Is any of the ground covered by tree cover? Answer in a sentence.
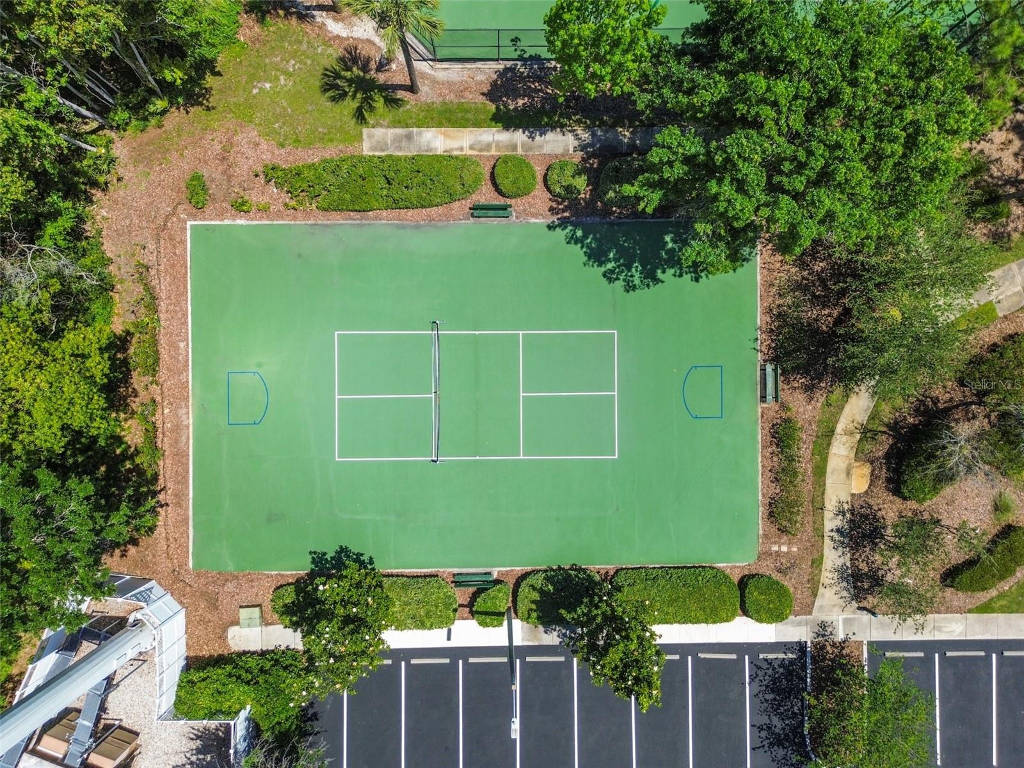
Yes, there's tree cover in this view.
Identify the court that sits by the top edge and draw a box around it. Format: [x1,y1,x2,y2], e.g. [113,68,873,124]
[386,0,1019,68]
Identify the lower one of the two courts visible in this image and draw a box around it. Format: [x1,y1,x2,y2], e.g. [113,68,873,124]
[187,220,760,572]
